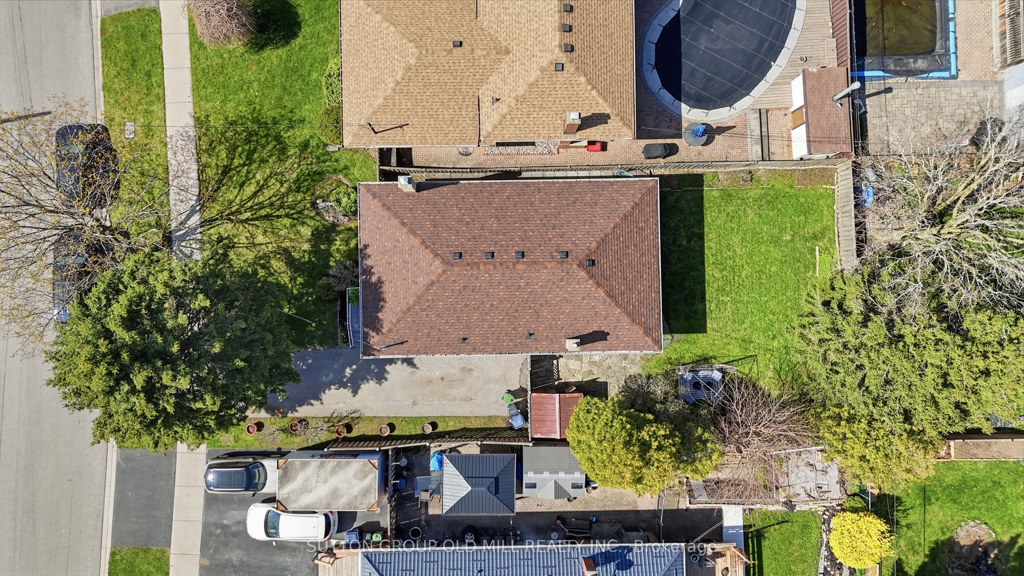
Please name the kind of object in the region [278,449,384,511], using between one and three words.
trailer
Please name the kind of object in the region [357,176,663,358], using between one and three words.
house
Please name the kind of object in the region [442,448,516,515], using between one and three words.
gazebo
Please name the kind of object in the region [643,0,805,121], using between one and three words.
swimming pool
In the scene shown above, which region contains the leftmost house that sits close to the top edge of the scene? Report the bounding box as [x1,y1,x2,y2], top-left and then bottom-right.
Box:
[340,0,636,150]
